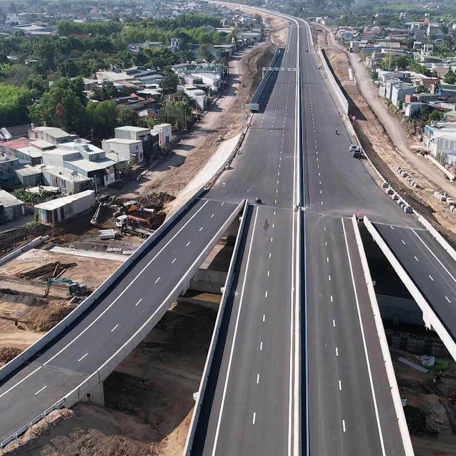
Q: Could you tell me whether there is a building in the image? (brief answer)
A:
Yes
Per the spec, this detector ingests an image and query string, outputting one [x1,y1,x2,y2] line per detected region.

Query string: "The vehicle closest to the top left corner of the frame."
[102,190,151,220]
